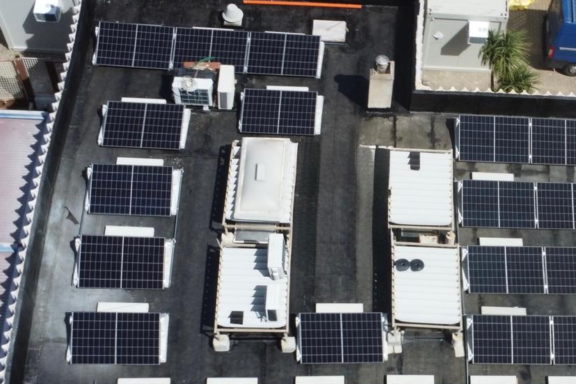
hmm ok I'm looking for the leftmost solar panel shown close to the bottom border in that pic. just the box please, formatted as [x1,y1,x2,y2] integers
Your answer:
[71,312,161,366]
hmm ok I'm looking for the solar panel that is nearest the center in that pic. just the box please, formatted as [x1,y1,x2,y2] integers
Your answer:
[241,87,317,136]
